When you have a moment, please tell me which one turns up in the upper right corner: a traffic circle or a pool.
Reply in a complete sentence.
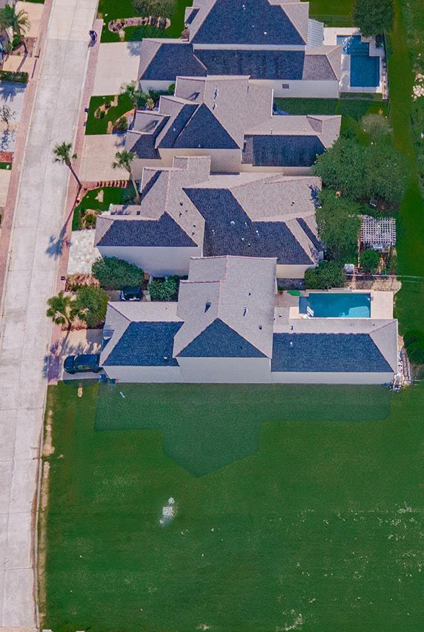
What appears in the upper right corner is a pool.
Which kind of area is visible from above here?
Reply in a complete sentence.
It's a residential area.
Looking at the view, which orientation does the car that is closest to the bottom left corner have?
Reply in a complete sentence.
The car that is closest to the bottom left corner runs from left to right in the image.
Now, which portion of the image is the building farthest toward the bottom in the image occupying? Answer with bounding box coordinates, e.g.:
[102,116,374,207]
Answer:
[102,256,398,381]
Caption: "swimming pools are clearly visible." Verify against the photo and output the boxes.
[334,33,381,88]
[297,291,373,319]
